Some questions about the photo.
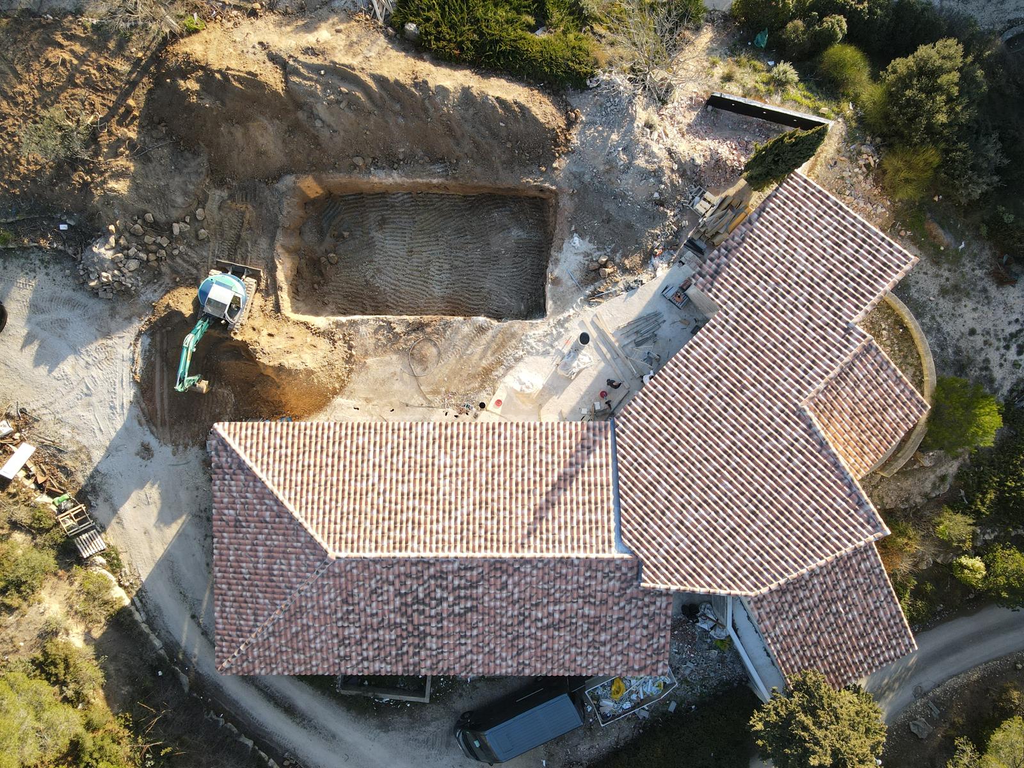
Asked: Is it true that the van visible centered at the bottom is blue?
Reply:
Yes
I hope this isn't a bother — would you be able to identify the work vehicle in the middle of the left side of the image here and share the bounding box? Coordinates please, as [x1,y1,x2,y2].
[175,252,265,394]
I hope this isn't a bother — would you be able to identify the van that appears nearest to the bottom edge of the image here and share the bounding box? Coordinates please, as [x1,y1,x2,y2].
[454,675,584,768]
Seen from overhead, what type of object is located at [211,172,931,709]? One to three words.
house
